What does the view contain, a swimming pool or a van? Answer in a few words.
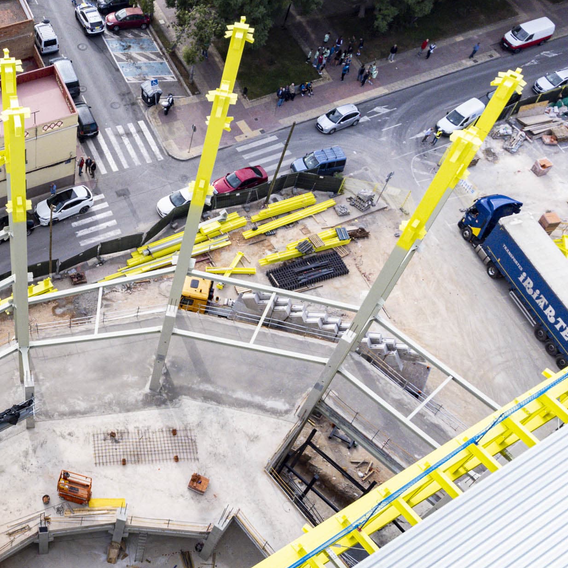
van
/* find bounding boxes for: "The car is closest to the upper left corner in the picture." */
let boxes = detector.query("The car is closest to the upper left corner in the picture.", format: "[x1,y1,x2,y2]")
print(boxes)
[34,16,62,54]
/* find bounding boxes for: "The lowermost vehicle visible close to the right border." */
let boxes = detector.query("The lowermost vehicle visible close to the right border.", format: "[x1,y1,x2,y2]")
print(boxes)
[448,195,568,377]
